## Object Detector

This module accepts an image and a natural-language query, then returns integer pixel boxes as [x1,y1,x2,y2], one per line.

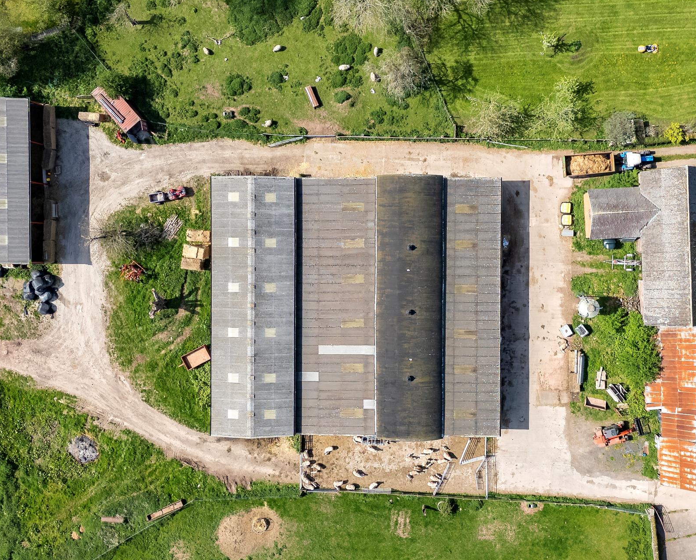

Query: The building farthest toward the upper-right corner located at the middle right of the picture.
[584,165,696,327]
